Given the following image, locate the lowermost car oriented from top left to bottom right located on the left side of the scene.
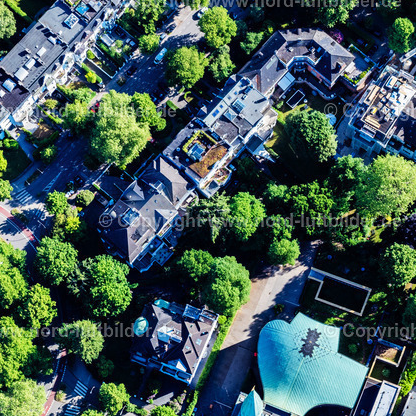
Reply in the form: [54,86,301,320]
[95,195,111,209]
